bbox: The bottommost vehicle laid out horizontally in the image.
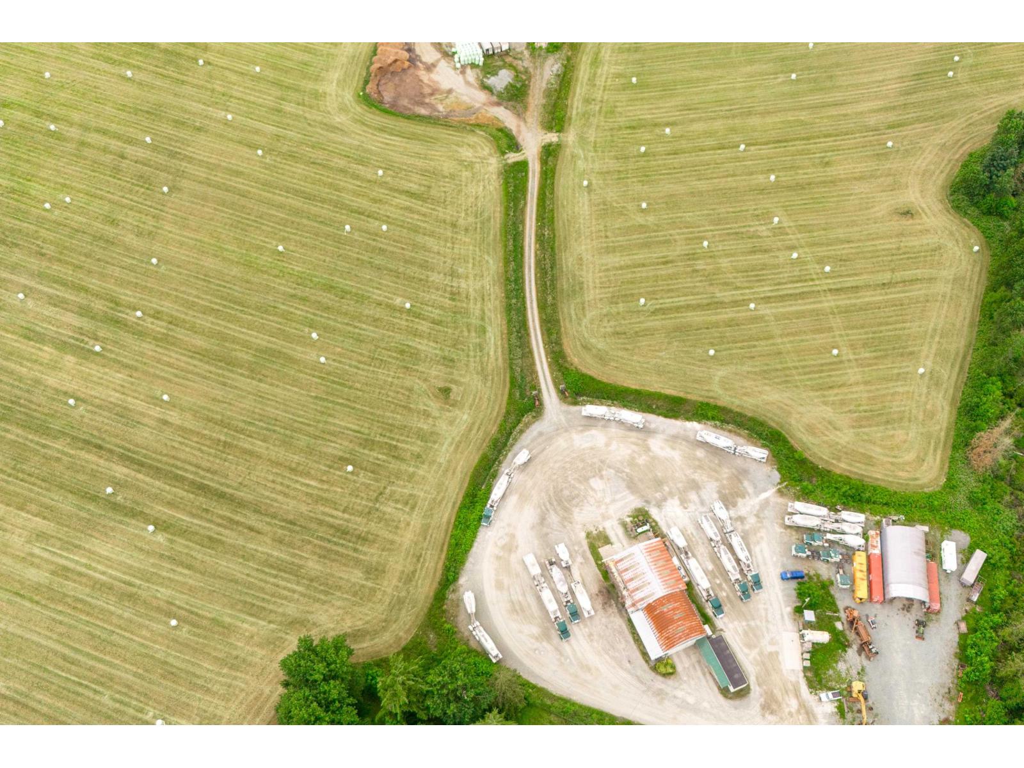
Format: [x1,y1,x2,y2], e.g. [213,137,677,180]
[818,690,843,703]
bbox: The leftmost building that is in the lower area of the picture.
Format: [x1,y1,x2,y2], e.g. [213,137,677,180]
[603,537,706,666]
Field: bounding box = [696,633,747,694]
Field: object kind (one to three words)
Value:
building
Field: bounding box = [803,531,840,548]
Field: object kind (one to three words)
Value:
vehicle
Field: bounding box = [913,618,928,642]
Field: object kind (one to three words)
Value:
work vehicle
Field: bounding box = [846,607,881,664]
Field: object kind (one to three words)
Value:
truck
